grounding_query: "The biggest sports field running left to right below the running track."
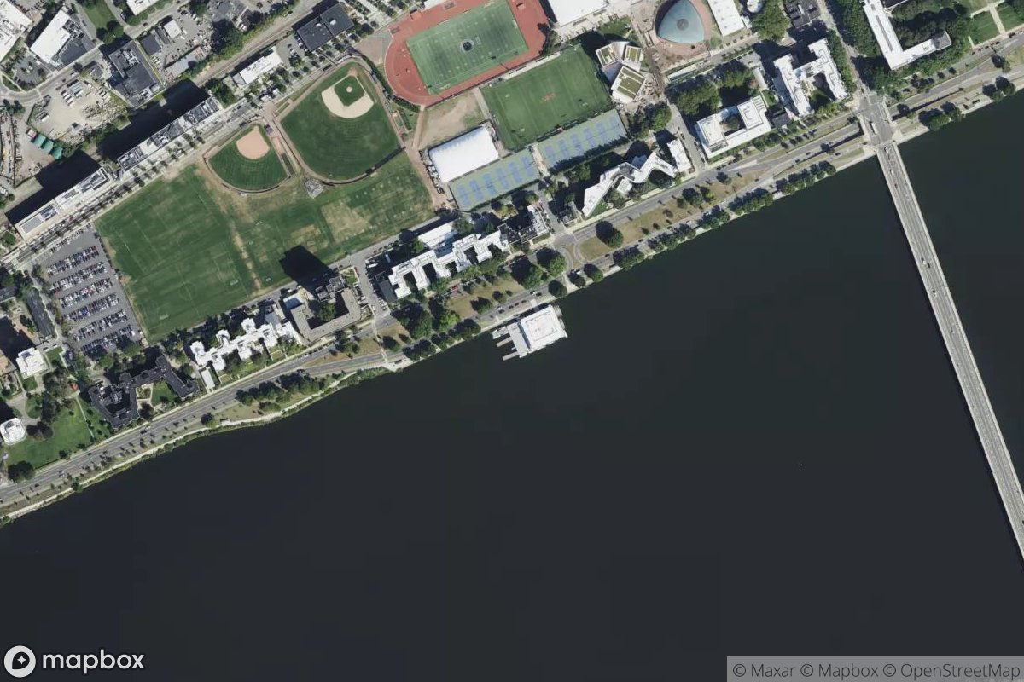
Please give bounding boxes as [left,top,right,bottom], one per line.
[89,151,435,340]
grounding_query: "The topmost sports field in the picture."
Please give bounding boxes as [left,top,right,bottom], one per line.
[406,0,528,94]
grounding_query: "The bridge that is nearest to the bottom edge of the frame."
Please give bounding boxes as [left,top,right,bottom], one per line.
[877,145,1024,558]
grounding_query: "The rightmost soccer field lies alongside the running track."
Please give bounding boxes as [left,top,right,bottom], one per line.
[482,41,611,151]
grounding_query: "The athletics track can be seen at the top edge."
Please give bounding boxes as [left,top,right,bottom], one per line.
[387,0,546,102]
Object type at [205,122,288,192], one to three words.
baseball field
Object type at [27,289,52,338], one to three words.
house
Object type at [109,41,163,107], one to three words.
building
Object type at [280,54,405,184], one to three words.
baseball field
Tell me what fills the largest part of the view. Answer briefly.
water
